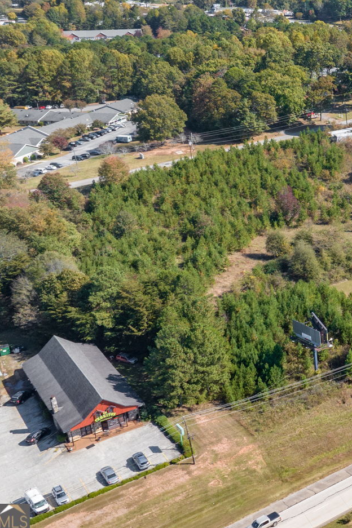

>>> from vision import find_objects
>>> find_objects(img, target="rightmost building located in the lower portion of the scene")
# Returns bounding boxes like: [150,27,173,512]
[19,335,157,460]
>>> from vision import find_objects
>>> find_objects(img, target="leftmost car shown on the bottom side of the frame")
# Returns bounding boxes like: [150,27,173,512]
[7,386,35,403]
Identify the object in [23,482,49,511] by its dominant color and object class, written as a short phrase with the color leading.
white vehicle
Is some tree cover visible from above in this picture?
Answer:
Yes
